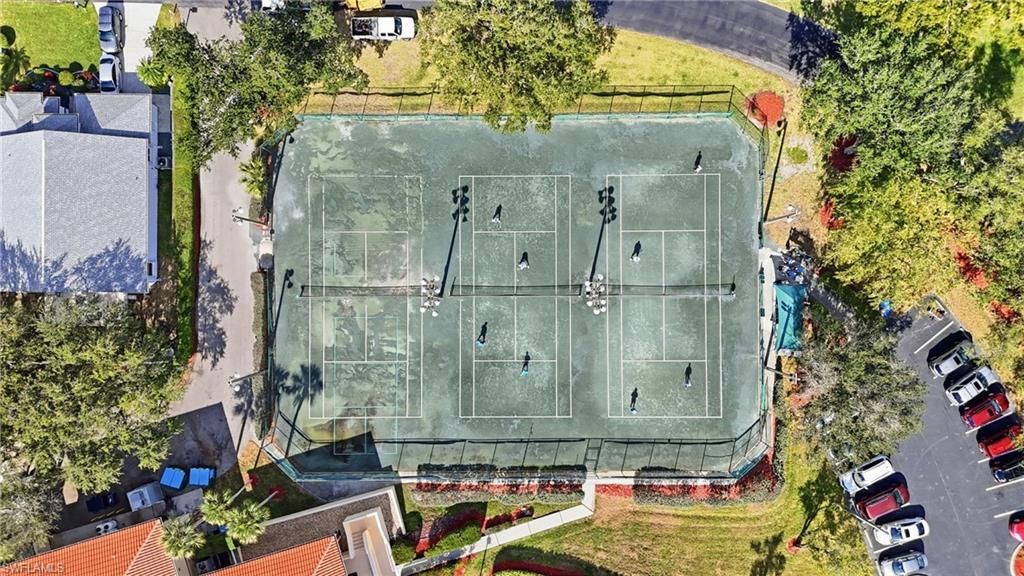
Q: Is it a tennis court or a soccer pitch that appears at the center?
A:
tennis court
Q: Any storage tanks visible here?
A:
No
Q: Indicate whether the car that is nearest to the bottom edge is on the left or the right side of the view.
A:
right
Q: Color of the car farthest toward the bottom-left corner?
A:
black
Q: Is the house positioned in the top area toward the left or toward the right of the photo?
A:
left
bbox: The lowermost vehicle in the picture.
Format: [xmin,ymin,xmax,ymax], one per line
[877,547,930,576]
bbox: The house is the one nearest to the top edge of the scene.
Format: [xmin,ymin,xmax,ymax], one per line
[0,92,161,292]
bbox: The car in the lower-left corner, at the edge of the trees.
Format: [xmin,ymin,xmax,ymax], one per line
[77,488,125,517]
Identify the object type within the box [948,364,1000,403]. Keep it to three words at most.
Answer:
car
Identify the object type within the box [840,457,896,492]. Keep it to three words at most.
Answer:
car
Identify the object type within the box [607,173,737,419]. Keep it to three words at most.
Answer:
tennis court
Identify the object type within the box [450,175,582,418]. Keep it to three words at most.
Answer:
tennis court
